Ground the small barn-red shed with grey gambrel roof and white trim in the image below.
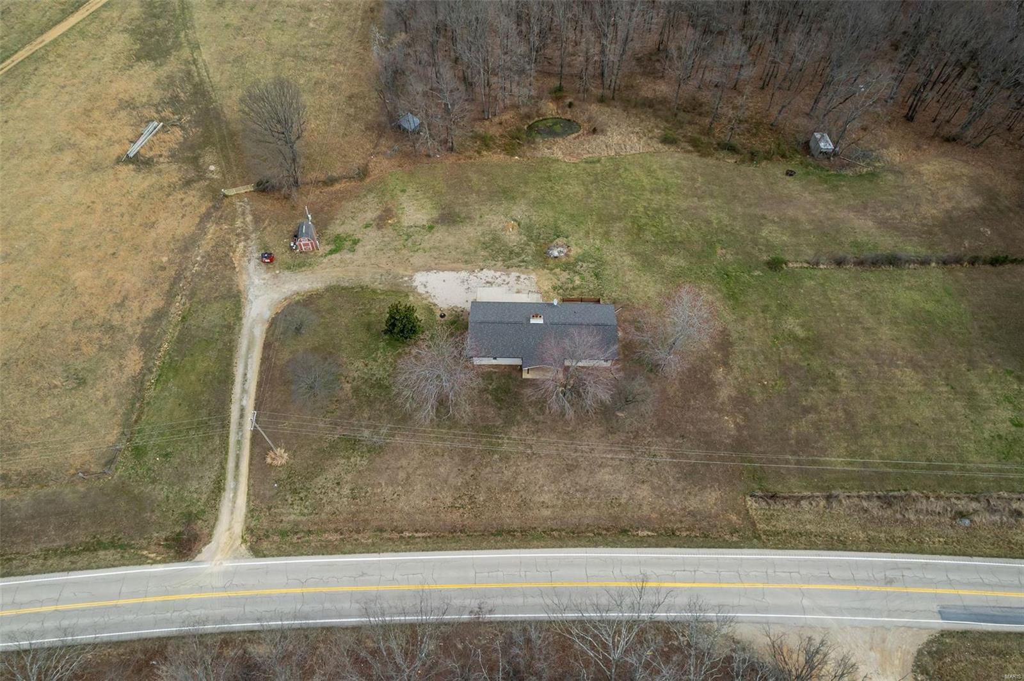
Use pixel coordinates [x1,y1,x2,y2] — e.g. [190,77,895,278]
[297,219,318,252]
